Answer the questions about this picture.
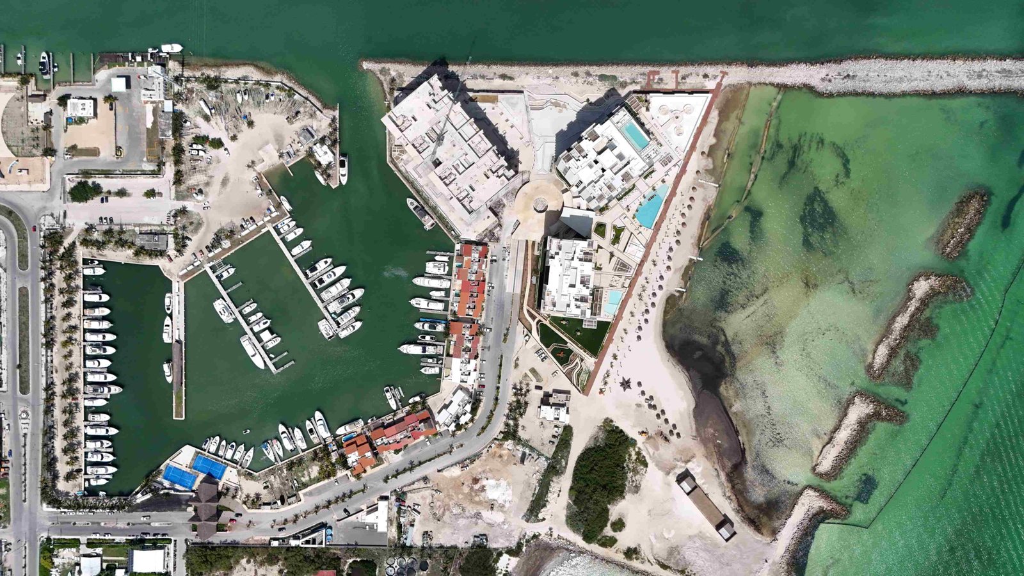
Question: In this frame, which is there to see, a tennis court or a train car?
tennis court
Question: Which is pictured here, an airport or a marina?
marina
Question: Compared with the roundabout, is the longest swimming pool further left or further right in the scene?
on the right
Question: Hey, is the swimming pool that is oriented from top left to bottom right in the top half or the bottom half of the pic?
top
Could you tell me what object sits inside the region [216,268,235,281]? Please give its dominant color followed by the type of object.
white boat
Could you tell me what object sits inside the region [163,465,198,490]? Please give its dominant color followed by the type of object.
blue tennis court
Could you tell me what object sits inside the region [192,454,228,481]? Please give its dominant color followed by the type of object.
blue tennis court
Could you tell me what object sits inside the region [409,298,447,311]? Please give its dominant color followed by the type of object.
white boat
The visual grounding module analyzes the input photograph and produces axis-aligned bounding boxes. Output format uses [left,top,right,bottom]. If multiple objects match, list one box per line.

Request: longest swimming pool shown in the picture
[635,184,669,229]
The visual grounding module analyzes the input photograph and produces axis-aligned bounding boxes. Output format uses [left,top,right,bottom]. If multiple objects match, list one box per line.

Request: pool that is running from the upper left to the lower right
[619,122,649,152]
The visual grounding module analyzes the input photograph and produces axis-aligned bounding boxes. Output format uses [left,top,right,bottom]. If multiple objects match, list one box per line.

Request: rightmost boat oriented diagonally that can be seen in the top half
[406,198,436,232]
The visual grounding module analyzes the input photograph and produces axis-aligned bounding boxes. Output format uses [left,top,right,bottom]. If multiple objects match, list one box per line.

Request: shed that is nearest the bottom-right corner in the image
[677,472,734,540]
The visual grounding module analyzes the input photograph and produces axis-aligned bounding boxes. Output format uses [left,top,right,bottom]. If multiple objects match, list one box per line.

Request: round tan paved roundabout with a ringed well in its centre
[511,179,563,241]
